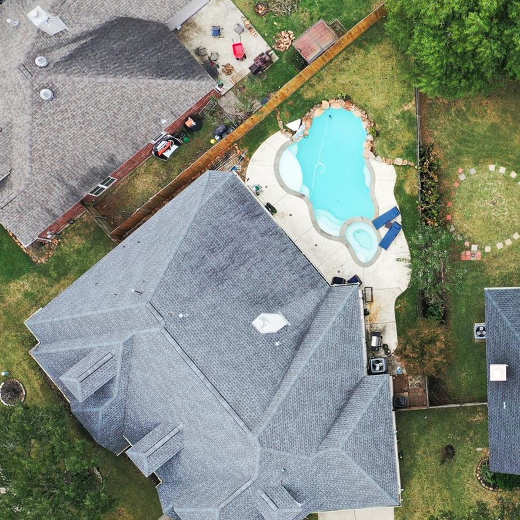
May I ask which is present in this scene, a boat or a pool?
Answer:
pool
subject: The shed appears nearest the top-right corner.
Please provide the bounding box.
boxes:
[292,19,340,64]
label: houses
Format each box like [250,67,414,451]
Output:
[484,286,520,475]
[22,169,402,520]
[0,0,225,248]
